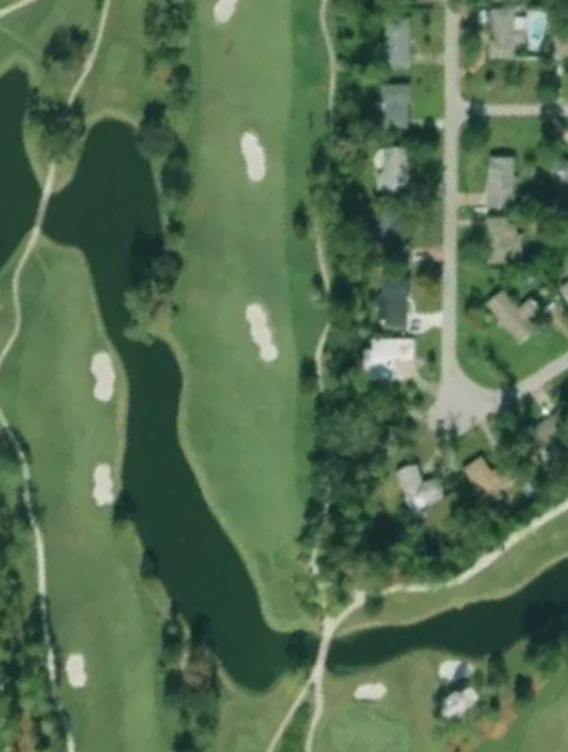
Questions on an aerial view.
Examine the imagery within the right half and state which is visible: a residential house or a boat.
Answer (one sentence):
The one visible within the right half is a residential house.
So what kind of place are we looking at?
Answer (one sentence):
The area seen from above is a golf course.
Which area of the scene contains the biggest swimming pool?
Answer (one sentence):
You can find the biggest swimming pool in the top right area of the picture.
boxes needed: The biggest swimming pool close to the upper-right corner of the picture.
[527,10,547,51]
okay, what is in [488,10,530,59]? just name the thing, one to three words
house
